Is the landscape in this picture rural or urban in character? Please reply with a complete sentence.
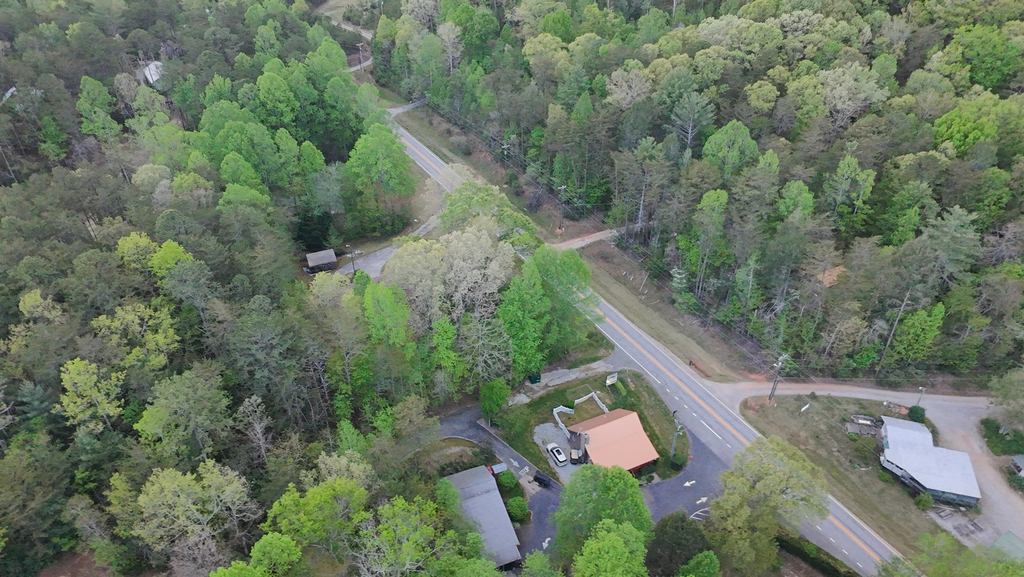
The area shown here is rural.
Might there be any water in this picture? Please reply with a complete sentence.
No, the picture contains no water.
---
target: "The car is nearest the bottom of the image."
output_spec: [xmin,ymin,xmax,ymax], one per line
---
[530,469,555,493]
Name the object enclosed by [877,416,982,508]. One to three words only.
building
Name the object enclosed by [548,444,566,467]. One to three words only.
car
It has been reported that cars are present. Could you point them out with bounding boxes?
[530,469,555,493]
[548,444,566,467]
[566,448,585,465]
